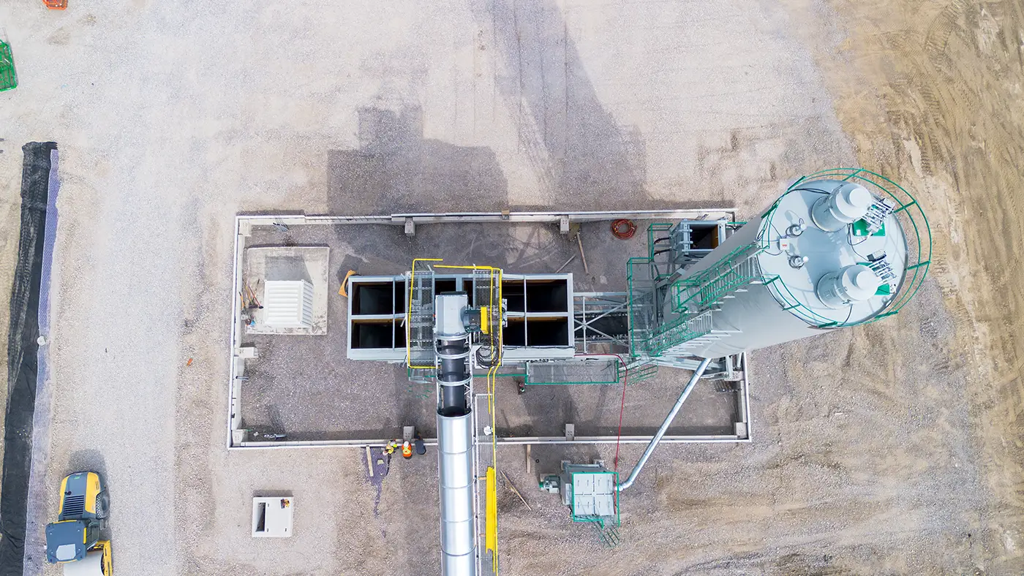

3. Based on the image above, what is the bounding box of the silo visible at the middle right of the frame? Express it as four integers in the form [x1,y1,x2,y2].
[624,169,929,381]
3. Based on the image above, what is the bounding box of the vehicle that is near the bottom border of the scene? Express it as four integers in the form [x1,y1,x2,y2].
[42,465,117,576]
